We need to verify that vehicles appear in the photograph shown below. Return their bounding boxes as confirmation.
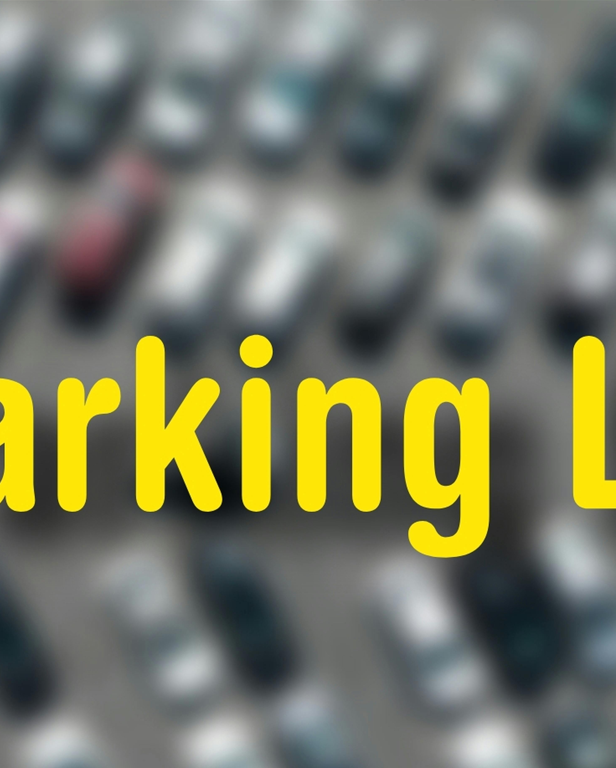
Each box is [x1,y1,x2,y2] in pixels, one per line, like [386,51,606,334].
[435,197,551,351]
[319,28,444,188]
[31,27,152,180]
[326,200,444,356]
[139,0,261,161]
[93,542,217,710]
[0,21,47,140]
[135,185,261,344]
[227,197,347,352]
[272,699,372,768]
[0,191,51,324]
[238,2,359,164]
[422,46,537,200]
[186,719,273,768]
[535,190,616,345]
[21,711,108,768]
[44,166,168,319]
[530,37,616,197]
[183,528,311,703]
[355,542,483,714]
[437,531,572,708]
[529,517,616,688]
[0,550,61,722]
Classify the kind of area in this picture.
parking lot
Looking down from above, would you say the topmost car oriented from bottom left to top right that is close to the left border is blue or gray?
gray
